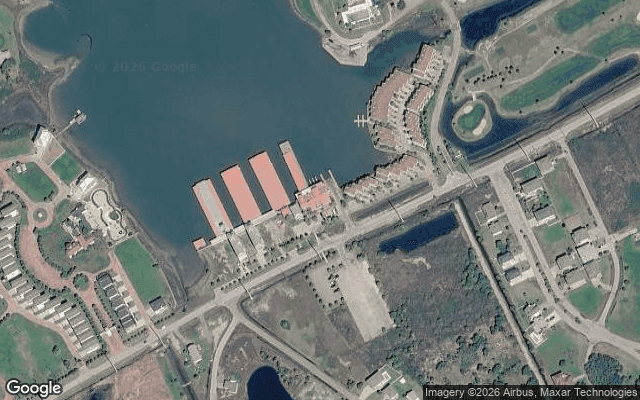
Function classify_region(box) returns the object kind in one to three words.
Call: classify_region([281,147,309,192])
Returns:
shed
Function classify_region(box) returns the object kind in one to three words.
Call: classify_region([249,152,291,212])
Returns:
shed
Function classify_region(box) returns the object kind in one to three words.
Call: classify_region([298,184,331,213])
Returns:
building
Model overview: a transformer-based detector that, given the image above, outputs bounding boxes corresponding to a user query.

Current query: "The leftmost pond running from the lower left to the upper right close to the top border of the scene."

[461,0,541,49]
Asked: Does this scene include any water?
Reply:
Yes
